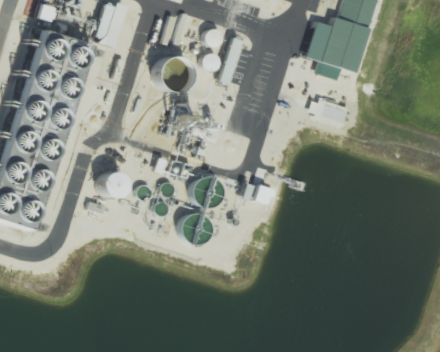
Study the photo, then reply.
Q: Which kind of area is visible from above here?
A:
industrial area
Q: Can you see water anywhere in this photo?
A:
Yes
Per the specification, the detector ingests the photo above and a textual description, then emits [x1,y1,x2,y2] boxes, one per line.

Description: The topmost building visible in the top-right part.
[335,0,378,26]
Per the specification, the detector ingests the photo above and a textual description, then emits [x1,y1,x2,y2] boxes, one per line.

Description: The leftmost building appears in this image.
[32,4,56,22]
